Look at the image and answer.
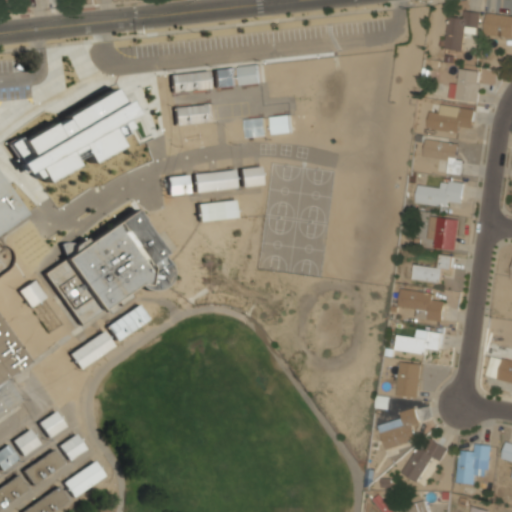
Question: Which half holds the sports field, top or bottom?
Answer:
bottom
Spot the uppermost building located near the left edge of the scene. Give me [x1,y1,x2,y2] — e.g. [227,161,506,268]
[10,89,144,182]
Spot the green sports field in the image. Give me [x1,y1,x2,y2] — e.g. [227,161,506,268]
[97,314,354,512]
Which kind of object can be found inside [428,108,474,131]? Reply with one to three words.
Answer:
house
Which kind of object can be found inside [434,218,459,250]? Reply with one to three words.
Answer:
house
